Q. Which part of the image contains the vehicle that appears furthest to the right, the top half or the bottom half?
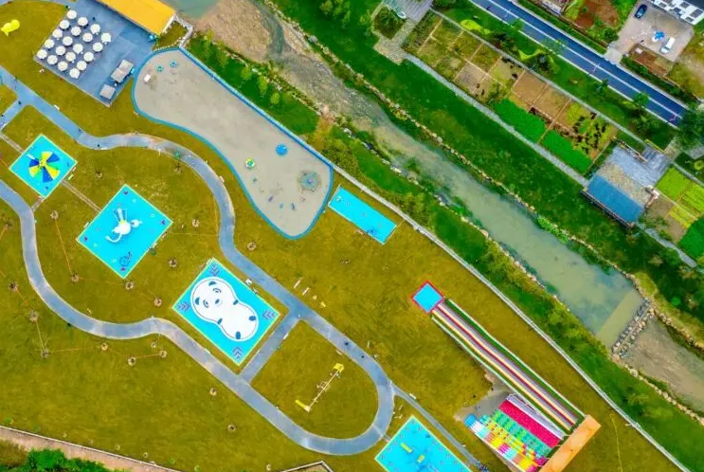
top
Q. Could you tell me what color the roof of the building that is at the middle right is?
blue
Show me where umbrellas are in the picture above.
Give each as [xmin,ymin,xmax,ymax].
[67,10,78,23]
[84,52,95,65]
[37,50,48,62]
[56,46,66,58]
[58,62,69,74]
[93,43,104,55]
[76,61,87,73]
[83,33,93,45]
[71,27,82,38]
[90,24,101,36]
[62,37,73,48]
[60,20,71,32]
[66,52,77,65]
[78,17,88,30]
[53,29,63,41]
[47,56,58,67]
[73,44,84,57]
[69,69,80,81]
[45,40,55,51]
[101,33,112,46]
